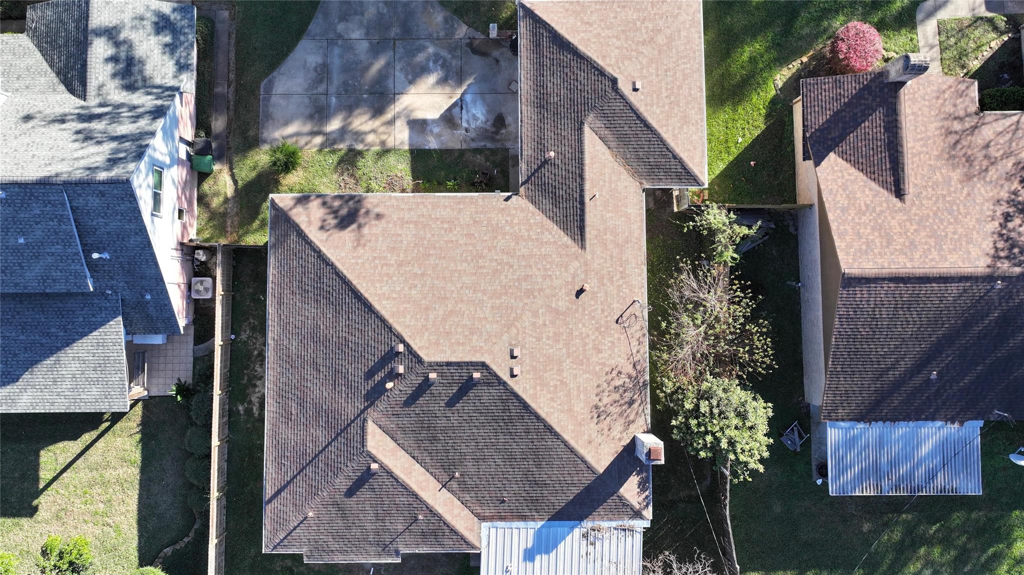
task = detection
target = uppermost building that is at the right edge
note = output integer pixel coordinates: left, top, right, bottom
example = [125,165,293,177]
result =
[794,58,1024,421]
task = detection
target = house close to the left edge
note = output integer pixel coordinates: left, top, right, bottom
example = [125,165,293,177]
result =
[0,0,200,414]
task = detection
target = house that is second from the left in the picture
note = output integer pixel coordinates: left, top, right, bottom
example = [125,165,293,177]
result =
[262,0,708,565]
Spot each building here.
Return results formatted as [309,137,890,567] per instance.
[794,58,1024,421]
[0,0,200,414]
[262,0,708,565]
